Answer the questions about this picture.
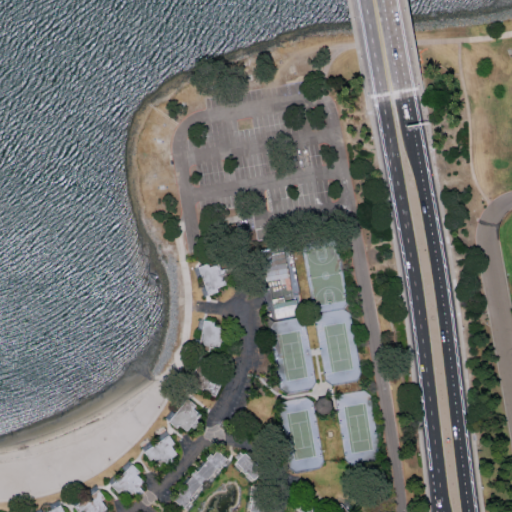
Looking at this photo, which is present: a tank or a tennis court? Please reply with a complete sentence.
Visible in the photo is a tennis court.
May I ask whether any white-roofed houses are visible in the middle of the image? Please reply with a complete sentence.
Yes, a white-roofed house is visible in the middle of the image.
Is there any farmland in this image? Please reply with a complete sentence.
No, the scene doesn't show any farmland.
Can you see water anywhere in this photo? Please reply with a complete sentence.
Yes, water shows up in the scene.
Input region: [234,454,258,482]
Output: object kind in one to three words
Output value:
building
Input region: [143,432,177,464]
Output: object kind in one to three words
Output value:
house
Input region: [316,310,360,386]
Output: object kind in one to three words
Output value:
tennis court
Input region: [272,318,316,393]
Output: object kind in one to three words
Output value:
tennis court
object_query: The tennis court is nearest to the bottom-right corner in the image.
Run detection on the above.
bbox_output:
[338,391,378,463]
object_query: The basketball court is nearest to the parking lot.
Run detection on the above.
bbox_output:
[304,242,348,311]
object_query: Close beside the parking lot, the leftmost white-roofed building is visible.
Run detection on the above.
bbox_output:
[195,265,227,297]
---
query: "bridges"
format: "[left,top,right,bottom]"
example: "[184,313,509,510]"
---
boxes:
[350,0,424,98]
